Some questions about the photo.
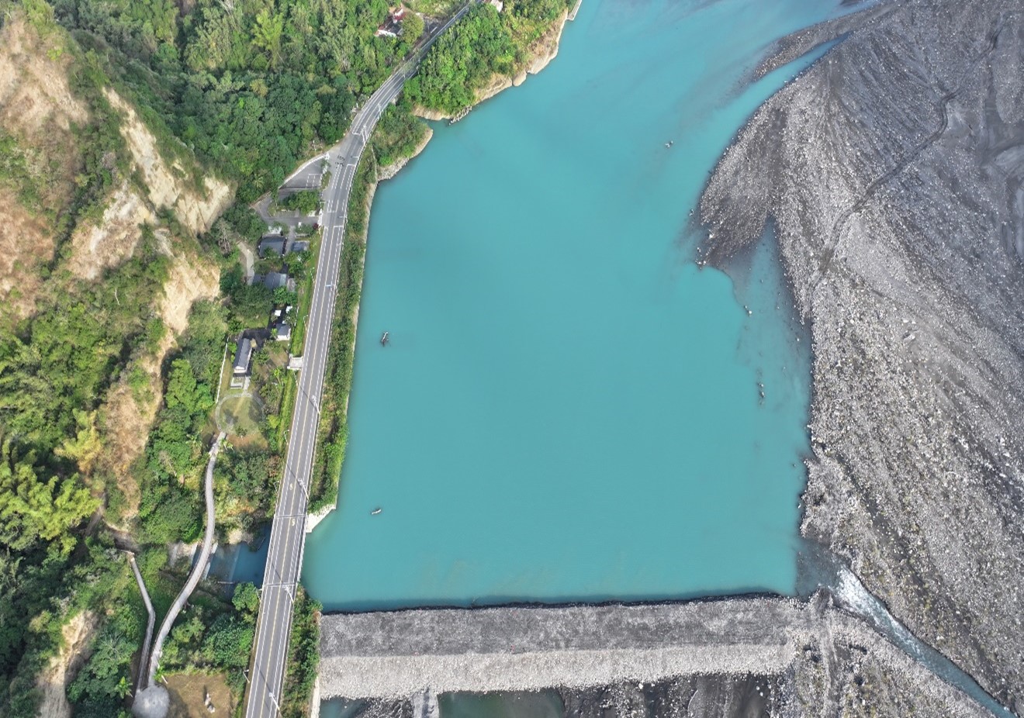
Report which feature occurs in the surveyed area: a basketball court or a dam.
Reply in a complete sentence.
There is a dam in the scene.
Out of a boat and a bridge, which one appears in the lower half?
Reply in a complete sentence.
The feature located in the lower half is a bridge.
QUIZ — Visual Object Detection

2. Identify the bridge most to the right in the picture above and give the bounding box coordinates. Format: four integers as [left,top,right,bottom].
[260,506,311,594]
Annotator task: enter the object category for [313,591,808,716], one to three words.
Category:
dam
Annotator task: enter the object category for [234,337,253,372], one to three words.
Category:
house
